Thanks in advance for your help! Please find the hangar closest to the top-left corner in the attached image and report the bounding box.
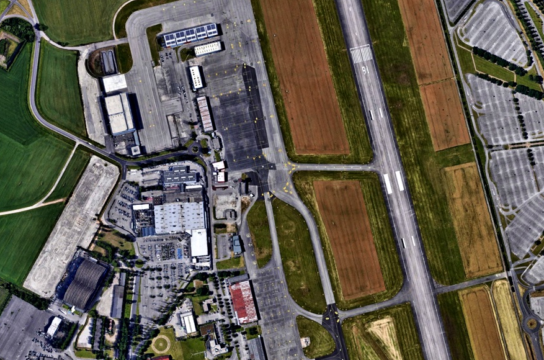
[102,74,129,92]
